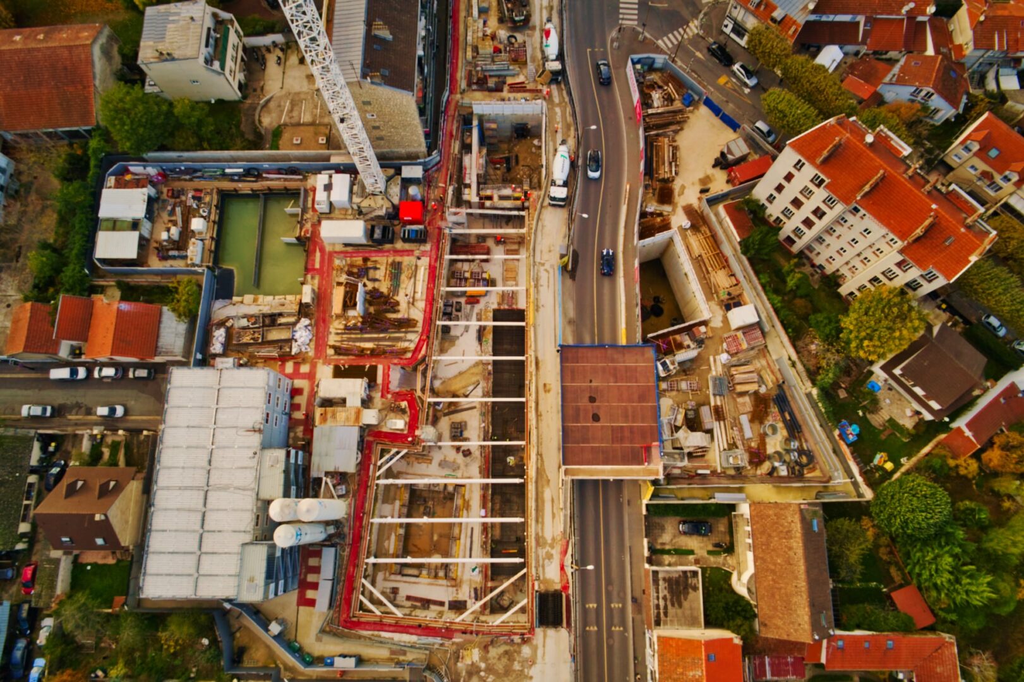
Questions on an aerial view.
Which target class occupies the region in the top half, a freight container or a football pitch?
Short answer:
freight container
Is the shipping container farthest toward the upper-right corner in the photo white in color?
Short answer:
No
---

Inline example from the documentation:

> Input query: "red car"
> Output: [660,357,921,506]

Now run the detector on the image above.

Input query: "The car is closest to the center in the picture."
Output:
[602,250,615,272]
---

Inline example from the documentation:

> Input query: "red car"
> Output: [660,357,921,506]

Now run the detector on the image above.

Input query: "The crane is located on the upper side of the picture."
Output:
[278,0,393,207]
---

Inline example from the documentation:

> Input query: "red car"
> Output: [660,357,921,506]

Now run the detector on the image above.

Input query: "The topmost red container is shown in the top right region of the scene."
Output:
[728,155,771,187]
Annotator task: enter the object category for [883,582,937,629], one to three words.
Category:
shed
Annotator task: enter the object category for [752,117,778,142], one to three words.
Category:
car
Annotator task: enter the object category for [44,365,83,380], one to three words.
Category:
vehicle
